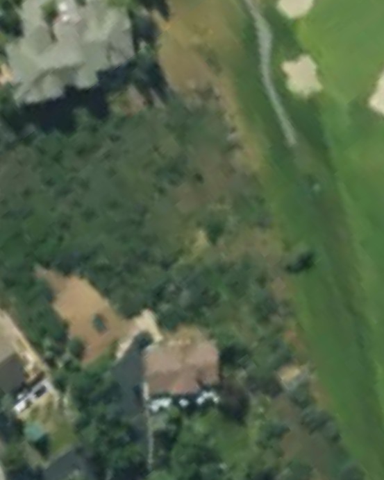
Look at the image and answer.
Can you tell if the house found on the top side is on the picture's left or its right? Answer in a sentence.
The house found on the top side is on the left side of the image.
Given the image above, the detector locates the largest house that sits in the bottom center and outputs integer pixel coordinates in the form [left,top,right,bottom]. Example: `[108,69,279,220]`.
[143,326,219,405]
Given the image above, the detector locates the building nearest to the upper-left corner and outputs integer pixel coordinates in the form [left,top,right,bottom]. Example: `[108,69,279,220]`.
[0,2,138,105]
